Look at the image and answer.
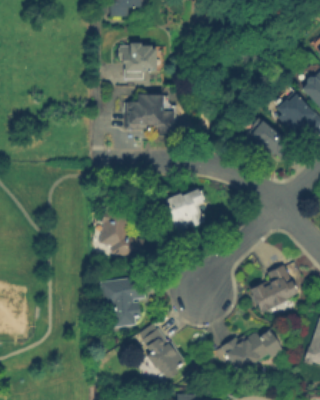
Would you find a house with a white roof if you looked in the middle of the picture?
Yes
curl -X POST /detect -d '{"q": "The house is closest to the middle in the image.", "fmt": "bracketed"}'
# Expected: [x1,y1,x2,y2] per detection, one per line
[166,186,206,226]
